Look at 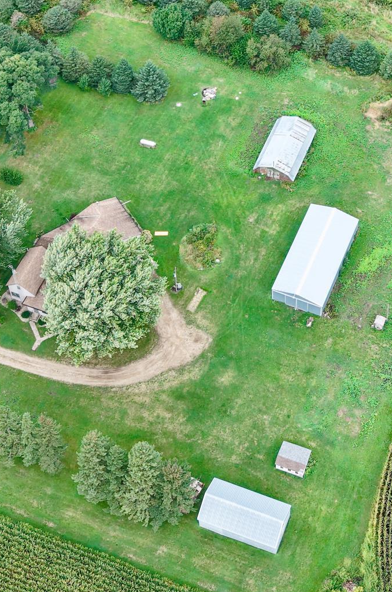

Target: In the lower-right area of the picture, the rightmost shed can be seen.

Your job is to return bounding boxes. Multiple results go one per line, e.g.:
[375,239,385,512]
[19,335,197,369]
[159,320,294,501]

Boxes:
[275,440,312,478]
